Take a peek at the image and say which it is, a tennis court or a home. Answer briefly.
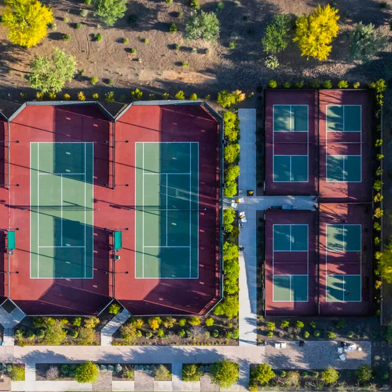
tennis court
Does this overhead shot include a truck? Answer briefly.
No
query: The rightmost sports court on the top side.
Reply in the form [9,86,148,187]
[318,89,373,203]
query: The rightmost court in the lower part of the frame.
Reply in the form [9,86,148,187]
[318,203,373,316]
